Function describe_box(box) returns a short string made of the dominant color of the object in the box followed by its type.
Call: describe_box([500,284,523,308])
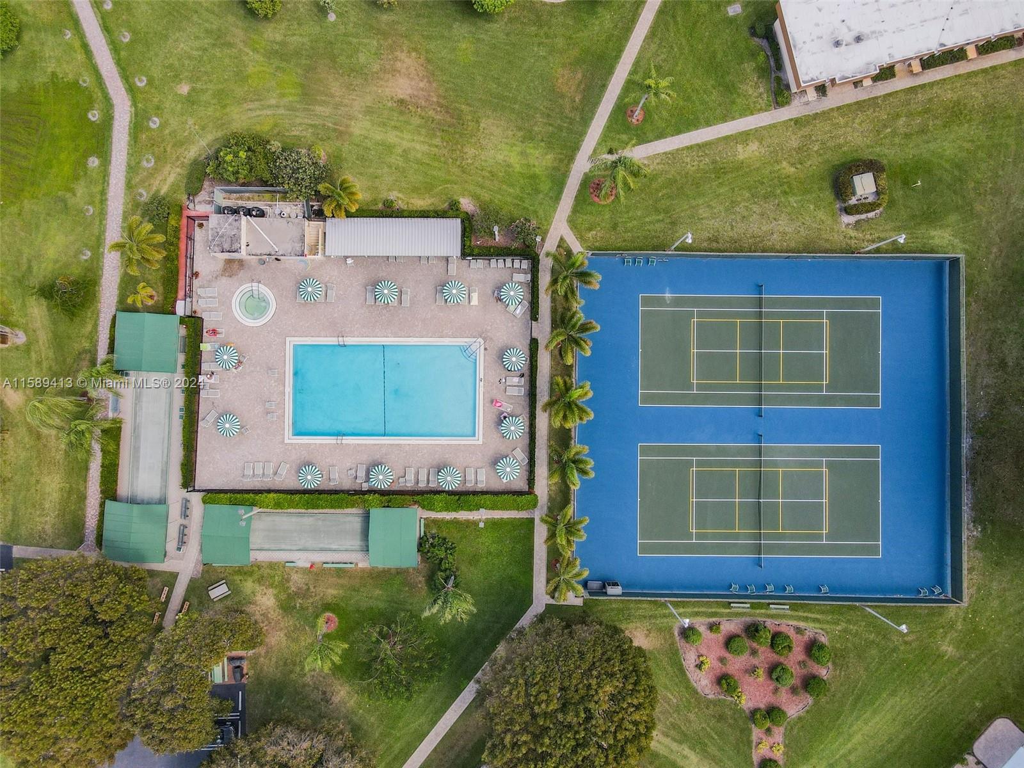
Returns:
white umbrella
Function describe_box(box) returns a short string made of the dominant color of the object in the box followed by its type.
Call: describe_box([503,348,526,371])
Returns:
white umbrella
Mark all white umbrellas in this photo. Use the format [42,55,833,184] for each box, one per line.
[500,284,523,308]
[439,466,462,489]
[443,281,467,304]
[219,414,243,438]
[503,348,526,371]
[370,465,393,488]
[496,456,520,479]
[218,346,241,369]
[500,416,524,439]
[375,282,399,306]
[301,279,325,303]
